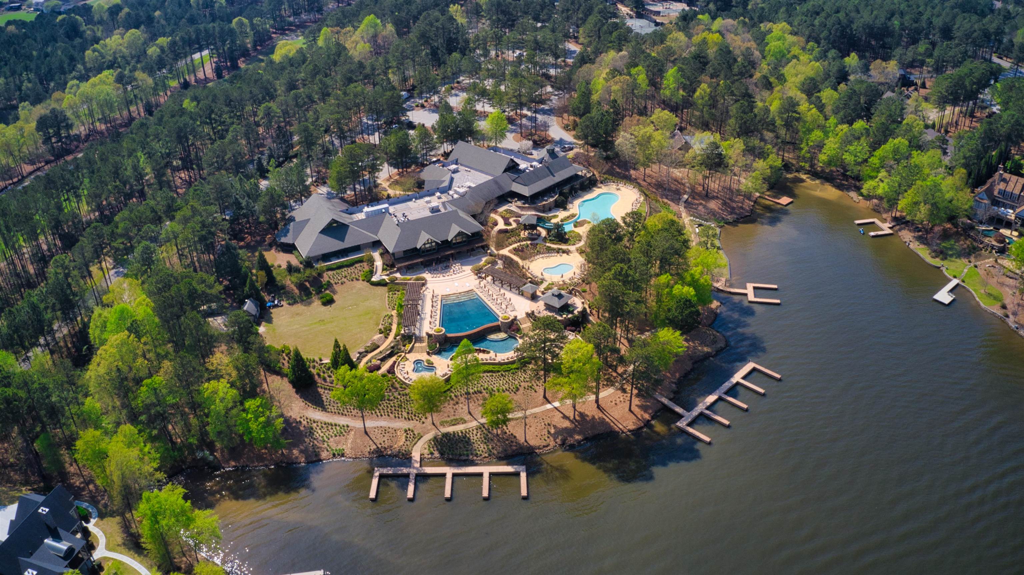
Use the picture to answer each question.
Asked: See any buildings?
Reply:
Yes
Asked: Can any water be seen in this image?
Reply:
Yes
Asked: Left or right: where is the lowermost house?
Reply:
left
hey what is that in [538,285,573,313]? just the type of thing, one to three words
building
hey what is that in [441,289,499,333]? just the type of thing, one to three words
swimming pool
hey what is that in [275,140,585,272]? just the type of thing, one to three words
building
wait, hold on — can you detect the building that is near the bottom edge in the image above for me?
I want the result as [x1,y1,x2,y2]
[0,482,89,575]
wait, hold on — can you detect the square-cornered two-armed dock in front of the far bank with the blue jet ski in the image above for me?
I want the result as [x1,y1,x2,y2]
[854,219,902,237]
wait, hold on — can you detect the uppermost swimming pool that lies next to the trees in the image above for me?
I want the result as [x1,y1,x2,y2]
[566,192,619,231]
